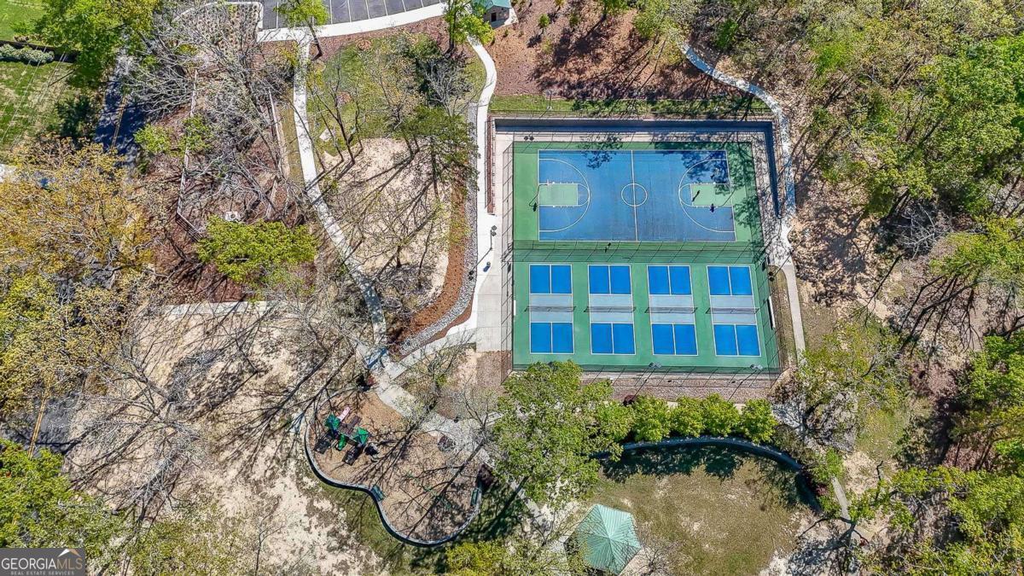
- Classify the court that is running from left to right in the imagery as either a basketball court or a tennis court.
basketball court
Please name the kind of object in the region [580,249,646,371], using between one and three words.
sports court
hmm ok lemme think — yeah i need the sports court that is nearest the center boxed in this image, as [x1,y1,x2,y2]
[512,249,583,371]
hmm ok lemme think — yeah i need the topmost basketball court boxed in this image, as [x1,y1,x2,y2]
[513,141,766,250]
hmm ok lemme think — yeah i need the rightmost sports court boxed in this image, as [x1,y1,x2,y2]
[697,250,782,372]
